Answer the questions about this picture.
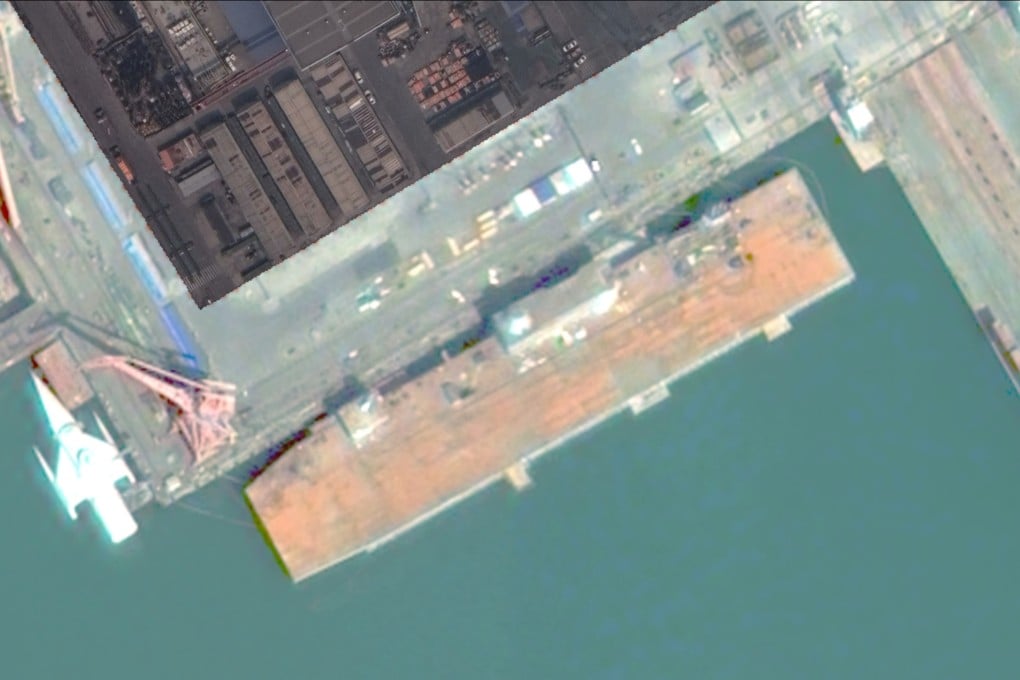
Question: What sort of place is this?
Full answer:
This image shows a port.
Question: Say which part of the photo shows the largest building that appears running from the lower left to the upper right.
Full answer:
The largest building that appears running from the lower left to the upper right sits in the top section of the image.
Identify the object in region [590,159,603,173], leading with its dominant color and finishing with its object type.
white vehicle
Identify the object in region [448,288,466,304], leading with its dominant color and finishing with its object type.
white vehicle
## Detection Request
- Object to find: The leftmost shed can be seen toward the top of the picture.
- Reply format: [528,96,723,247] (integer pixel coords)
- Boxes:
[37,82,81,151]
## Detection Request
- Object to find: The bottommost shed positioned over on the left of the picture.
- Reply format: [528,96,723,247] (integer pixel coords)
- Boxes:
[162,302,201,366]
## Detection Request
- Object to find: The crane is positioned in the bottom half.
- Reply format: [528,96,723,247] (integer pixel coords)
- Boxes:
[80,353,242,467]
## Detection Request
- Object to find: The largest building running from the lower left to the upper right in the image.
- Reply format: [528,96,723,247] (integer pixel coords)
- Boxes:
[432,94,515,158]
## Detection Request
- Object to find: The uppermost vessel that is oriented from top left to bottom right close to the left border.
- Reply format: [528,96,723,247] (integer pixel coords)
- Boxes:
[34,340,94,410]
